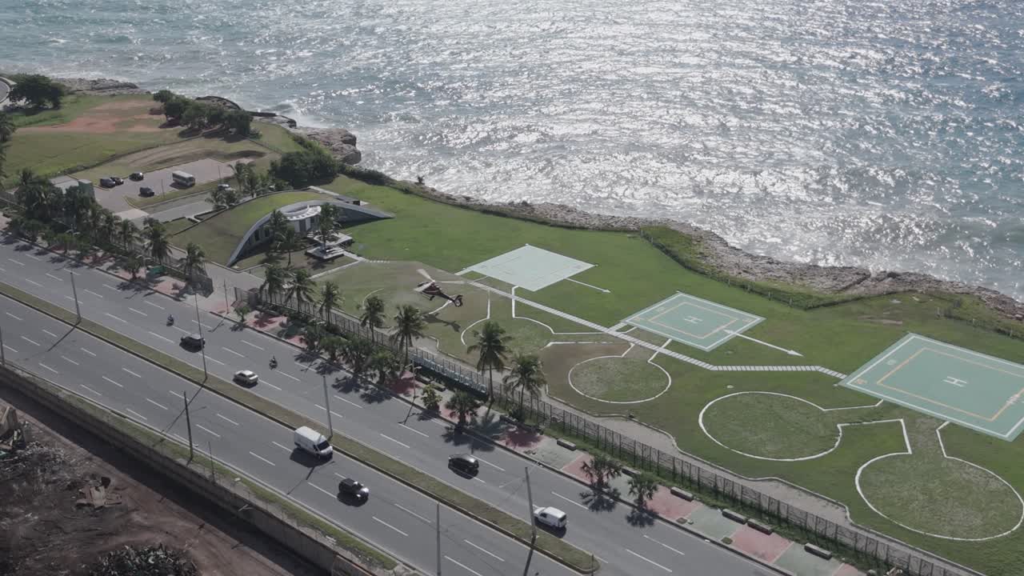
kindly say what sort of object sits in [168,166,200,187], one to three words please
vehicle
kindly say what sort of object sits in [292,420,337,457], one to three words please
van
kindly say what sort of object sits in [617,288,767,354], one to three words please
helipad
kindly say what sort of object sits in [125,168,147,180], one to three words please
vehicle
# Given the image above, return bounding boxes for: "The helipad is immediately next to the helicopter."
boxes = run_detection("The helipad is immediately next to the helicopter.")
[468,242,596,294]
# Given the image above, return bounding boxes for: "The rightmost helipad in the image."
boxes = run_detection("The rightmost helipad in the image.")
[836,329,1024,443]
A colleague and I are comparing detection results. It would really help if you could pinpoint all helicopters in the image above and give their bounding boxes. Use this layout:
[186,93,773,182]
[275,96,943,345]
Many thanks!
[409,267,465,311]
